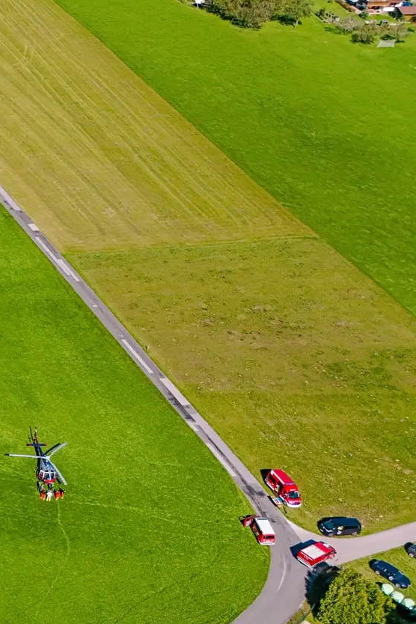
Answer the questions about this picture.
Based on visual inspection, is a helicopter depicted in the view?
Yes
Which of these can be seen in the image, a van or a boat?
van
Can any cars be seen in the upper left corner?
No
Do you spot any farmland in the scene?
Yes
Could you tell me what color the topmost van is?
red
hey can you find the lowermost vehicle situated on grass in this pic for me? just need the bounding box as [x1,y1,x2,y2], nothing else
[371,557,412,588]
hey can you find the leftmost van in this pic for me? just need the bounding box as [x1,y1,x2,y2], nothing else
[238,513,279,550]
